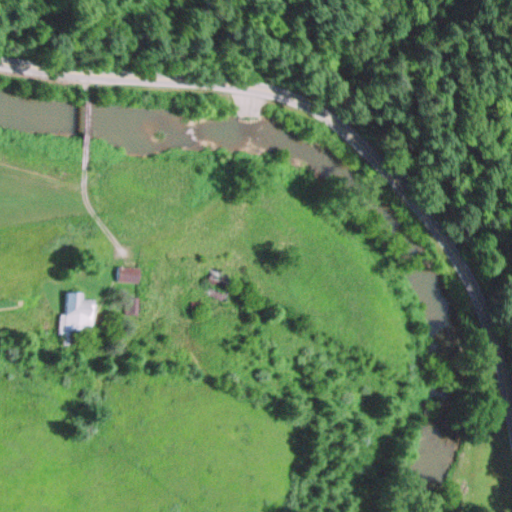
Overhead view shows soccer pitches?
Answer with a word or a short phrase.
No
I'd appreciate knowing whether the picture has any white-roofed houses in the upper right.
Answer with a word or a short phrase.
No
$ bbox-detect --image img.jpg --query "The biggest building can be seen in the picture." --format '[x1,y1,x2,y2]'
[57,290,96,346]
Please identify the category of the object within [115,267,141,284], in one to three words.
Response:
barn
